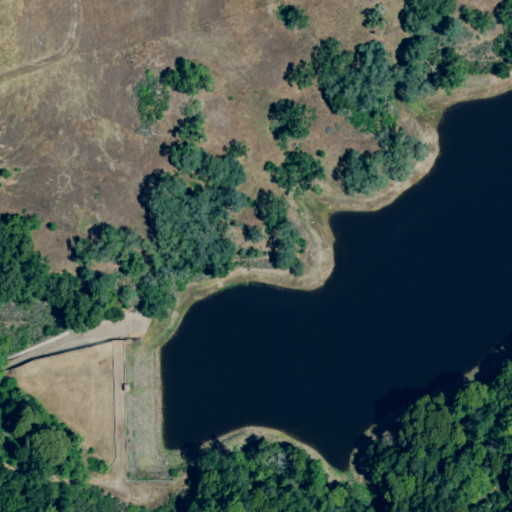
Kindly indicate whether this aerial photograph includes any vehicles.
No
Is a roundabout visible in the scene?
No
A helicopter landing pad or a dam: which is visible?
dam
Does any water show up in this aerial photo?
Yes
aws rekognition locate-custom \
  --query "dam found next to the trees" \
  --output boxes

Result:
[8,340,173,482]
